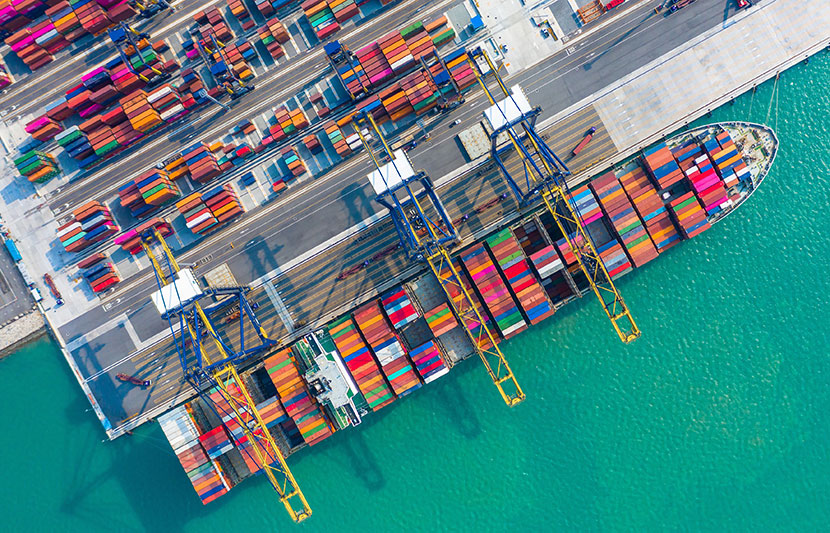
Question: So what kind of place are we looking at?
port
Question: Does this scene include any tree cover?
No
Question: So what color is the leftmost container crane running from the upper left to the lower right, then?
blue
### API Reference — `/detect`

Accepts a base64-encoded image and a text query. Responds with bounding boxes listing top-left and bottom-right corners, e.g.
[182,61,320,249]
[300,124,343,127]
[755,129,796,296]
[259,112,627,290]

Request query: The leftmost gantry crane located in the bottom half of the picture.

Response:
[138,230,313,524]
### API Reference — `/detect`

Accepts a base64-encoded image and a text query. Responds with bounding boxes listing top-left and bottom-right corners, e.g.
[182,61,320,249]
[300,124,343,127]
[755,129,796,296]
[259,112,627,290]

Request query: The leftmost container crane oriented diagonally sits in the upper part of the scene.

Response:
[104,19,171,88]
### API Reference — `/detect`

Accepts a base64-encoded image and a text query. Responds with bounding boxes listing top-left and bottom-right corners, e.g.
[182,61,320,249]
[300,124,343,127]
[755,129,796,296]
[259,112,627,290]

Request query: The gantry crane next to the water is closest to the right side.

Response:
[466,48,641,343]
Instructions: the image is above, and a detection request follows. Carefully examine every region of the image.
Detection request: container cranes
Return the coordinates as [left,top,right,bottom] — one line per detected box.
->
[466,48,641,343]
[323,36,375,108]
[104,19,171,88]
[138,230,313,524]
[418,47,465,114]
[193,32,254,100]
[351,113,525,407]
